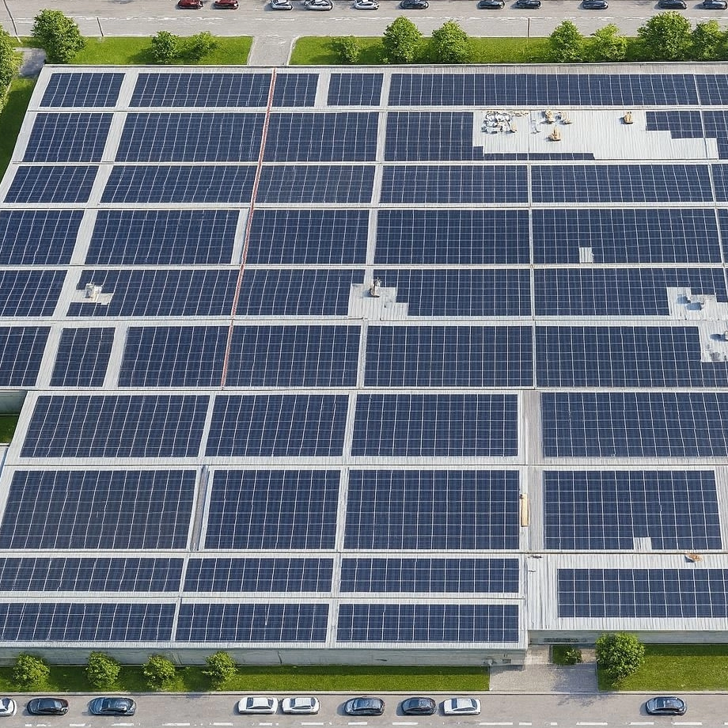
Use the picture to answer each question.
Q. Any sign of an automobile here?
Yes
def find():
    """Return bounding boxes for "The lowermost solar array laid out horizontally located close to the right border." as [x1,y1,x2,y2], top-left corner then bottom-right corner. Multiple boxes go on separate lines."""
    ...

[558,568,728,616]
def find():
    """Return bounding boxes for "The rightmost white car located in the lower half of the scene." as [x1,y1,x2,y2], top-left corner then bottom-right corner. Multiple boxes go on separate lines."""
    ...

[442,697,481,716]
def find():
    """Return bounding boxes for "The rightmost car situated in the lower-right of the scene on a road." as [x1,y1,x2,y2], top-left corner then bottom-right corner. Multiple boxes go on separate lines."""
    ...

[645,697,686,716]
